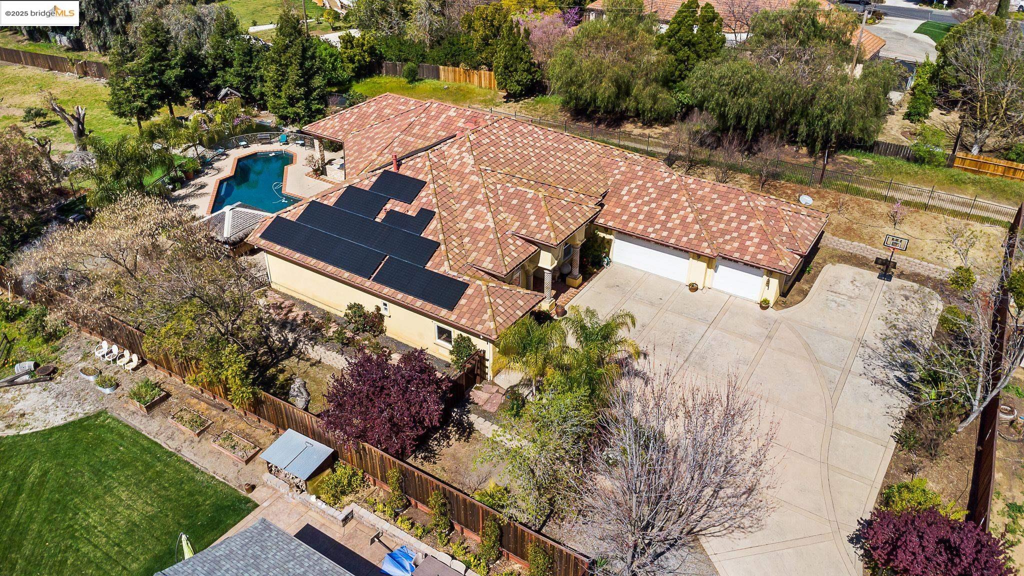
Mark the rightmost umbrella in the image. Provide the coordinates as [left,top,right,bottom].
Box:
[372,527,419,576]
